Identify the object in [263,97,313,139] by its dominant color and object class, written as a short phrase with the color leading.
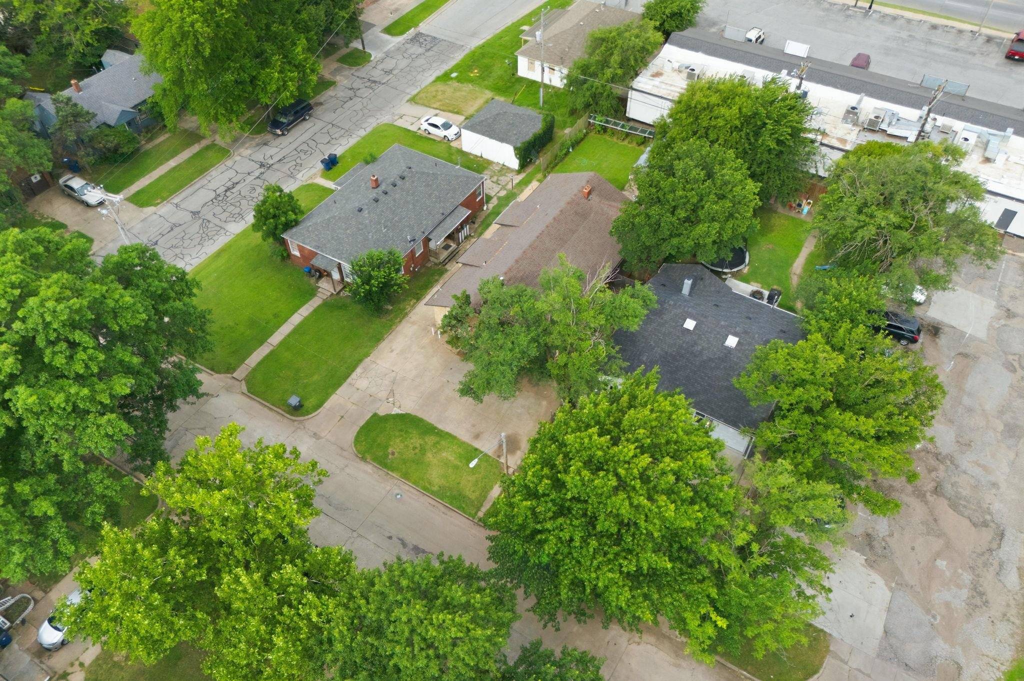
black car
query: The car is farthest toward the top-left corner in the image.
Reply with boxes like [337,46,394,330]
[59,177,105,207]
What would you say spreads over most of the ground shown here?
trees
